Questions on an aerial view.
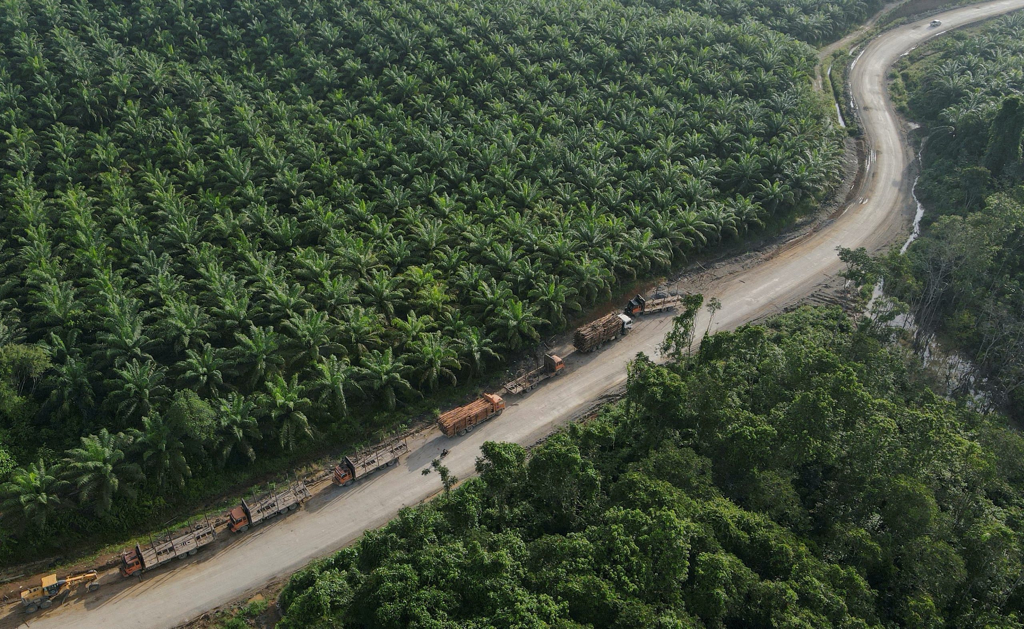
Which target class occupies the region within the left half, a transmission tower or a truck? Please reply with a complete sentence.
Visible within the left half is a truck.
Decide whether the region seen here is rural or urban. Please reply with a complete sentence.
The area shown here is rural.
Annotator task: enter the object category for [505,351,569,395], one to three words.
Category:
truck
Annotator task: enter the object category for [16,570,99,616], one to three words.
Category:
work vehicle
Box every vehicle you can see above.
[929,20,943,28]
[117,517,211,578]
[16,570,99,616]
[439,390,508,438]
[574,313,632,352]
[623,284,686,317]
[505,351,569,395]
[223,473,310,535]
[329,431,408,488]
